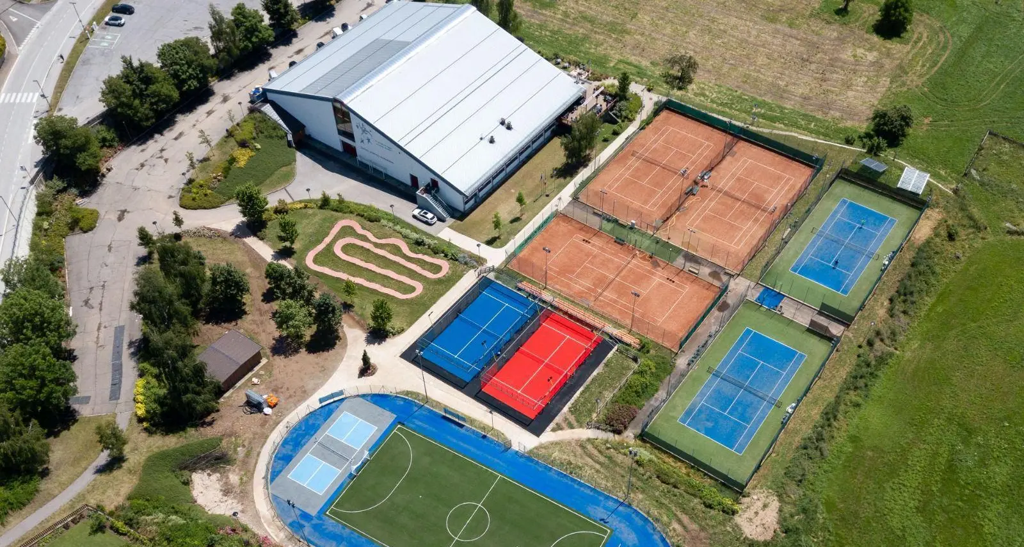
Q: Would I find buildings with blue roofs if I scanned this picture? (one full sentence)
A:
No, no building with a blue roof is visible in the scene.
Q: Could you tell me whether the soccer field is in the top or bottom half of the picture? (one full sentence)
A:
It is in the bottom half that the soccer field appears.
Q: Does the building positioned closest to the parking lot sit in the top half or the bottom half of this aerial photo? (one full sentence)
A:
Seen from above, the building positioned closest to the parking lot lies in the top half of the view.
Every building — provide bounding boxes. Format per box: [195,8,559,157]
[194,322,260,383]
[263,3,584,213]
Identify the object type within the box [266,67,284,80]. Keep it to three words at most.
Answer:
vehicle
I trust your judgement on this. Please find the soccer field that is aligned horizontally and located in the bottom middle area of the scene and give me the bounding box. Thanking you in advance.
[323,422,616,547]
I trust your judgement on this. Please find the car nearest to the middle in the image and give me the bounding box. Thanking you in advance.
[413,209,437,224]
